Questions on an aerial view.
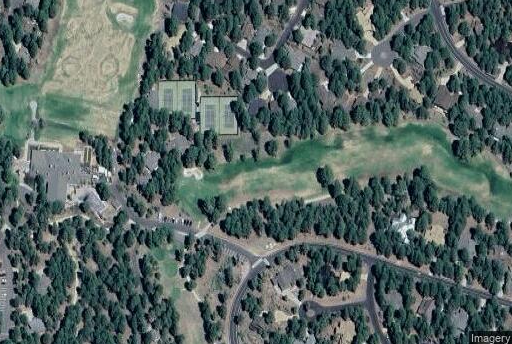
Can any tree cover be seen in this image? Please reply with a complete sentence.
Yes, there is tree cover in the image.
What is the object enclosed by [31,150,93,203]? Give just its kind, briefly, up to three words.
building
